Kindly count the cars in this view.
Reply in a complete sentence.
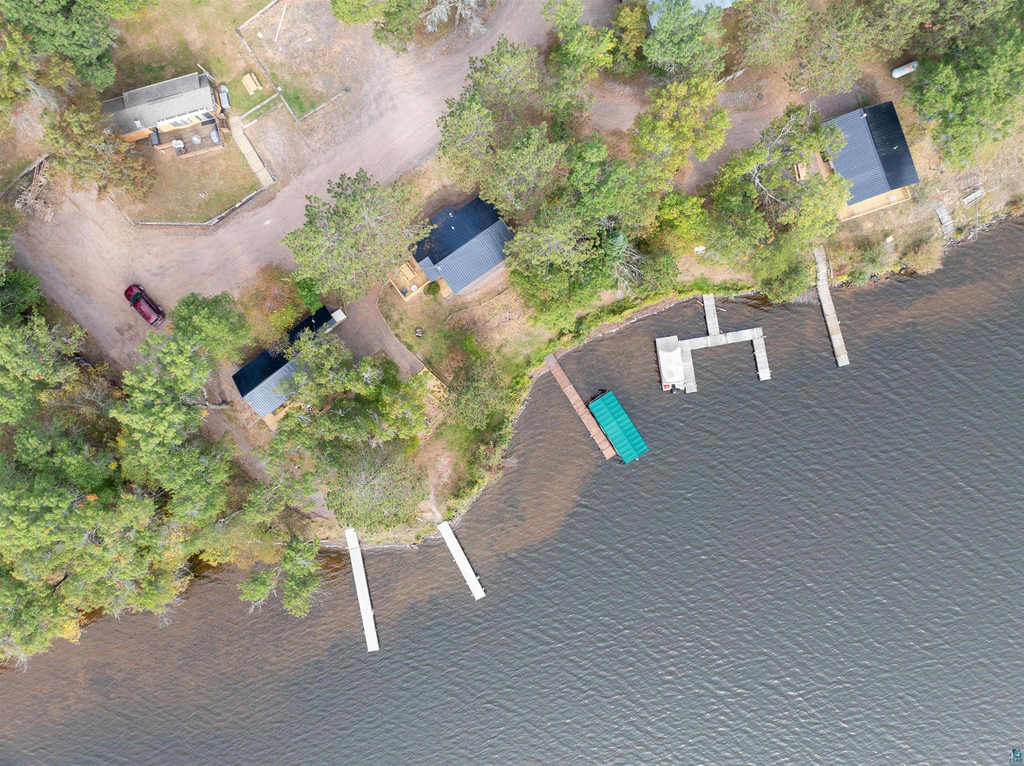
The picture shows 1 car.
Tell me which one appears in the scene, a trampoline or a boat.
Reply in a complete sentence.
There is a boat in the scene.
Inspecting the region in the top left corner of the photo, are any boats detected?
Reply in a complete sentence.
No, no boat appears in the top left corner of the photo.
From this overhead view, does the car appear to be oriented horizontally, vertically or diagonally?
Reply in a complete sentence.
In this picture, the car lies diagonally.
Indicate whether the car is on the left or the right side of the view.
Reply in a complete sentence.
It is on the left.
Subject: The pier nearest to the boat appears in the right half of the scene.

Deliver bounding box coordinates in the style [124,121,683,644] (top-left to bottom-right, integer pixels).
[679,294,772,394]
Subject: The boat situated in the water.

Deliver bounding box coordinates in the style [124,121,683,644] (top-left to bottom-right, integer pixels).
[655,335,684,393]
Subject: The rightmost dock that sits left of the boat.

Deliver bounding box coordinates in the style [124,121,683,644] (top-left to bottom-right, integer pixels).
[545,354,617,460]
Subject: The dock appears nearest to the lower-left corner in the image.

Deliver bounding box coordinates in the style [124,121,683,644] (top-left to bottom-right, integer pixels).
[346,537,381,654]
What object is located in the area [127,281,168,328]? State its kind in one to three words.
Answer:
car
